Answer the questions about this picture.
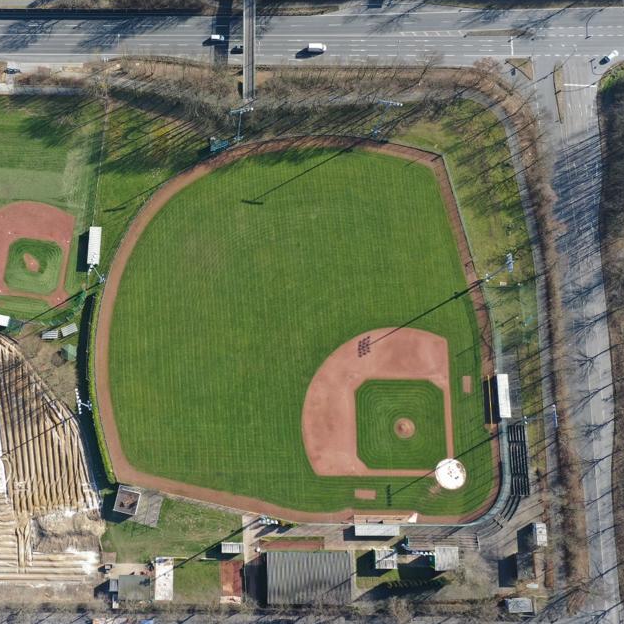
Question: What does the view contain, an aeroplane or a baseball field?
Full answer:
Visible in the photo is a baseball field.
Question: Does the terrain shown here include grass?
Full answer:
Yes, there is grass in the image.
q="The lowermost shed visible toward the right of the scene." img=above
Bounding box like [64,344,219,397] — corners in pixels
[504,596,534,613]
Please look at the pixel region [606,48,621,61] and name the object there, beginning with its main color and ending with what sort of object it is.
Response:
white vehicle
